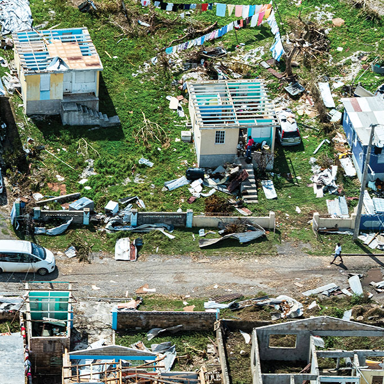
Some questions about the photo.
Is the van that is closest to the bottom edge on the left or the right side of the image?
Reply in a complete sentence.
The van that is closest to the bottom edge appears in the left half of the scene.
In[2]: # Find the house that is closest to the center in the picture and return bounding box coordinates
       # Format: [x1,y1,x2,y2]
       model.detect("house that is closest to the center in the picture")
[191,77,282,203]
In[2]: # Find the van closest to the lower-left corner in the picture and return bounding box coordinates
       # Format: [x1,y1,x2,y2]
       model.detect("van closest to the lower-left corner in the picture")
[0,239,57,276]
